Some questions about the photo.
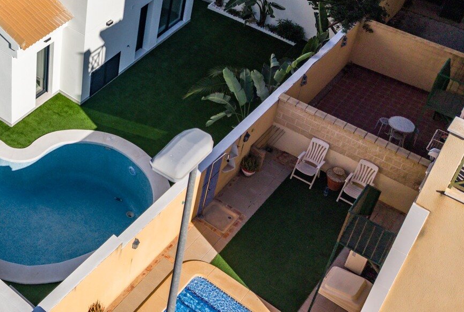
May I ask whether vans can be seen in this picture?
No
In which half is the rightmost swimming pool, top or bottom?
bottom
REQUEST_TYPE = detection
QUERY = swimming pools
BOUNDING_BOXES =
[0,130,167,285]
[170,260,274,312]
